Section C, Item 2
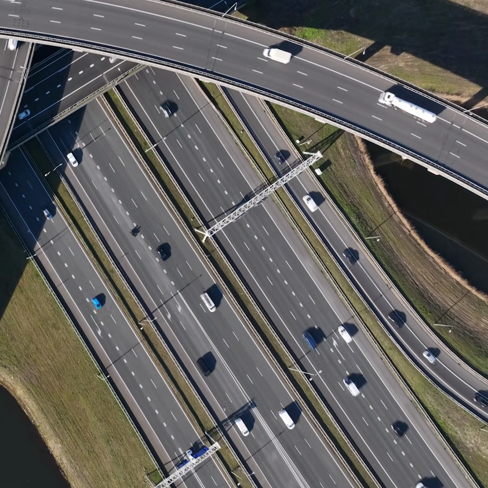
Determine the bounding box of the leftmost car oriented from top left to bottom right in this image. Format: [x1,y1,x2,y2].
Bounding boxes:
[40,207,53,222]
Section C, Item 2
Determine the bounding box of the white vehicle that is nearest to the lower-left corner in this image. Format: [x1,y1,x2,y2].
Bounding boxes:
[234,416,249,436]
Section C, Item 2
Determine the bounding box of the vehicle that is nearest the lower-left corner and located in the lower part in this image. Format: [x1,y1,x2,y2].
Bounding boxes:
[90,293,103,310]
